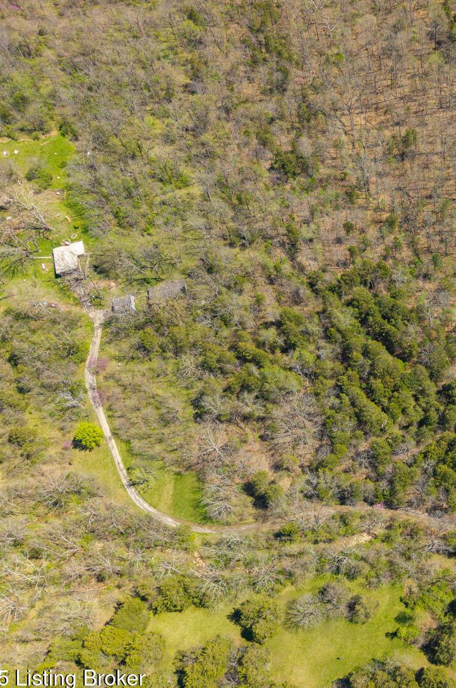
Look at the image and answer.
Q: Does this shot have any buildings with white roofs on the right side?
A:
No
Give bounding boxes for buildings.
[146,281,185,304]
[110,295,135,314]
[52,240,87,277]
